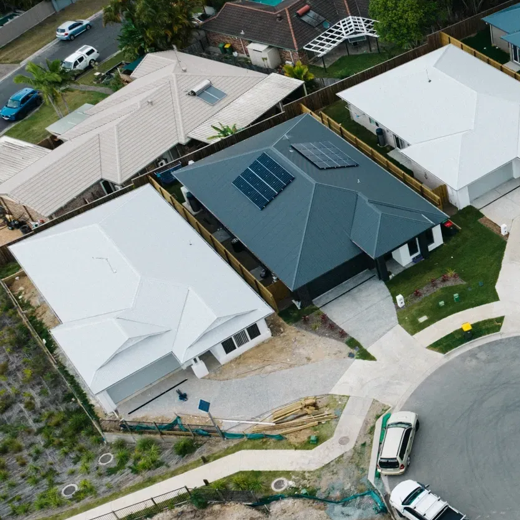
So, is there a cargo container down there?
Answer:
No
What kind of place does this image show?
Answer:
residential area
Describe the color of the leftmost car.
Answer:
blue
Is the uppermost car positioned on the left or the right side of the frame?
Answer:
left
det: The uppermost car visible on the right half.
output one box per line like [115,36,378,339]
[377,415,418,477]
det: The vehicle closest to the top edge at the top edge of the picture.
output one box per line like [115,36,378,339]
[55,20,93,40]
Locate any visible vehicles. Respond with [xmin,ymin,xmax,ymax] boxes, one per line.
[55,20,93,40]
[56,43,103,74]
[390,478,467,520]
[377,415,418,477]
[0,89,46,120]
